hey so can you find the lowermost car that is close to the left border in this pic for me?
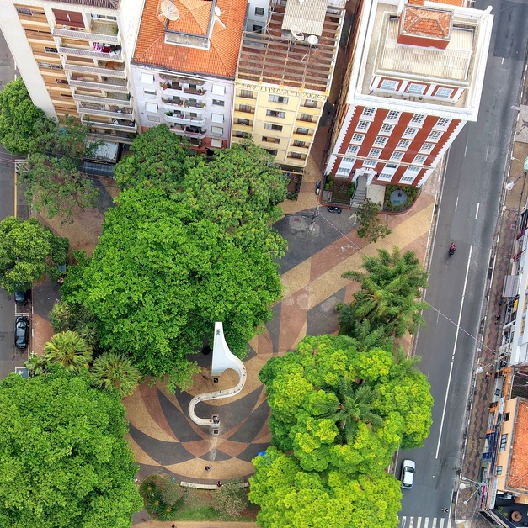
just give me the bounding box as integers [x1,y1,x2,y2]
[12,314,30,349]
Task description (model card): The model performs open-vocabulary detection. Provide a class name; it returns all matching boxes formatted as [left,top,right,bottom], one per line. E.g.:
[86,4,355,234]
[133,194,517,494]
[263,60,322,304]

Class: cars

[14,286,28,310]
[399,458,416,490]
[12,314,30,349]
